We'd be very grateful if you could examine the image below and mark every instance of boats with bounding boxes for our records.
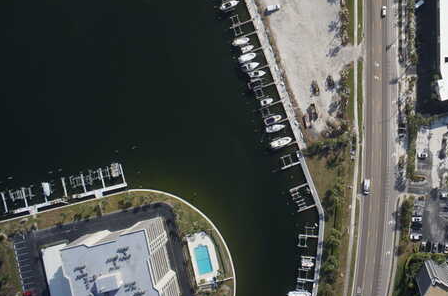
[241,46,255,53]
[270,137,293,149]
[232,36,251,46]
[110,163,119,178]
[264,115,282,126]
[248,69,267,77]
[238,53,257,62]
[220,1,239,11]
[265,124,286,133]
[241,62,260,70]
[260,98,274,106]
[301,260,313,267]
[42,182,50,197]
